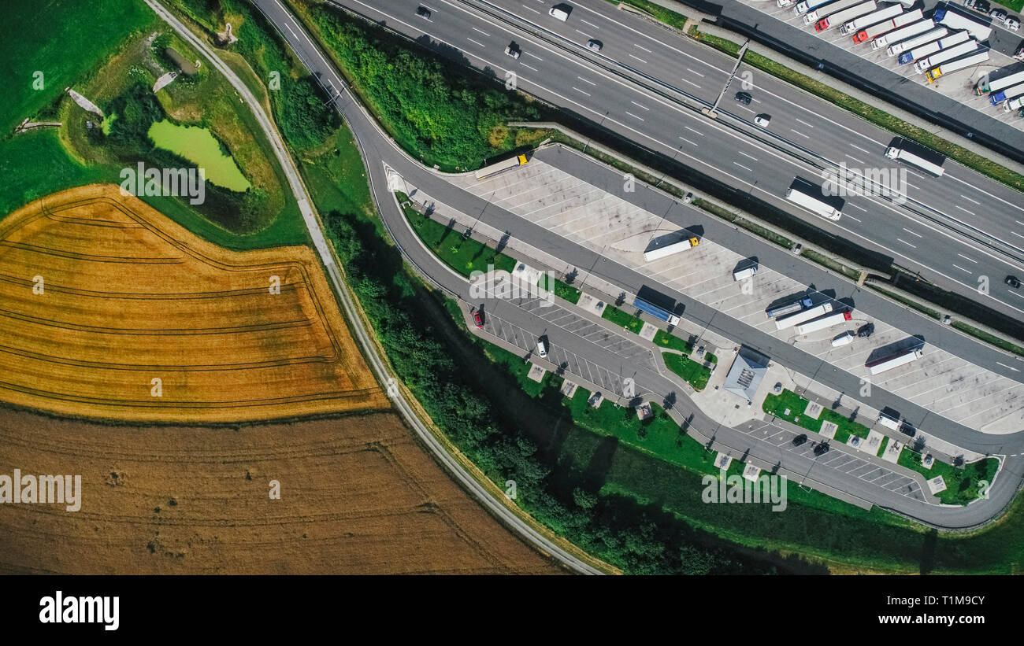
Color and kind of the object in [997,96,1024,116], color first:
white vehicle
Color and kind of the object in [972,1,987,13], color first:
black vehicle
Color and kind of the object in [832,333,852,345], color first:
white vehicle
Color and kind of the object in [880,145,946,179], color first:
white truck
